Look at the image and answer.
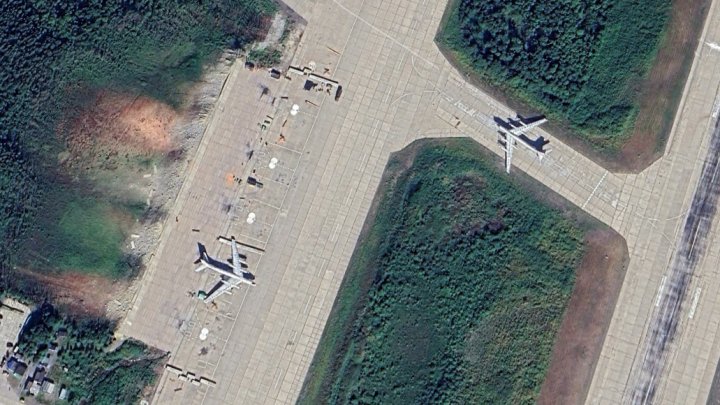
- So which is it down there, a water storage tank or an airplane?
airplane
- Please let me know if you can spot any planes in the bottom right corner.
No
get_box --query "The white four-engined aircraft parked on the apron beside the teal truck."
[193,238,258,303]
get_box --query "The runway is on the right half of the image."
[586,0,720,405]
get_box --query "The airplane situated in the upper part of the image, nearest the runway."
[494,117,553,170]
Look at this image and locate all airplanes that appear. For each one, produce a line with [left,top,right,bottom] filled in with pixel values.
[494,117,553,170]
[193,238,258,303]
